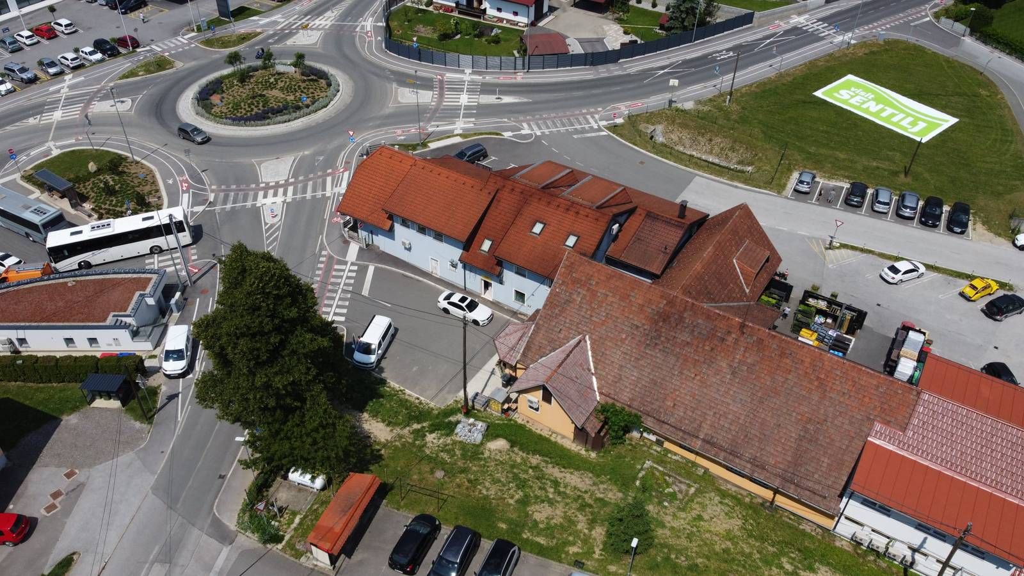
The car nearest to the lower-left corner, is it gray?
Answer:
No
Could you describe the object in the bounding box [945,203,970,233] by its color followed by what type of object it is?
black car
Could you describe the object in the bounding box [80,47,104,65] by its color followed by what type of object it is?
white car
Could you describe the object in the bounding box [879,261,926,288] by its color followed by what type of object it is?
white car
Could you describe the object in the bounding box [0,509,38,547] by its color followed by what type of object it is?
red car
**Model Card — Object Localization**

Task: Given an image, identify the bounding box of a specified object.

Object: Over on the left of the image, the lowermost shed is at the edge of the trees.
[308,473,383,573]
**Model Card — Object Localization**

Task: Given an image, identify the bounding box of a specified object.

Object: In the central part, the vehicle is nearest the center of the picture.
[437,293,492,323]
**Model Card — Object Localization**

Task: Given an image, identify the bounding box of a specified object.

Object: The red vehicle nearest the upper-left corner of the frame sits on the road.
[32,27,56,41]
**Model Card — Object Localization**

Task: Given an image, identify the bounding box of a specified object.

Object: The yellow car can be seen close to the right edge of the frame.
[960,278,1003,304]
